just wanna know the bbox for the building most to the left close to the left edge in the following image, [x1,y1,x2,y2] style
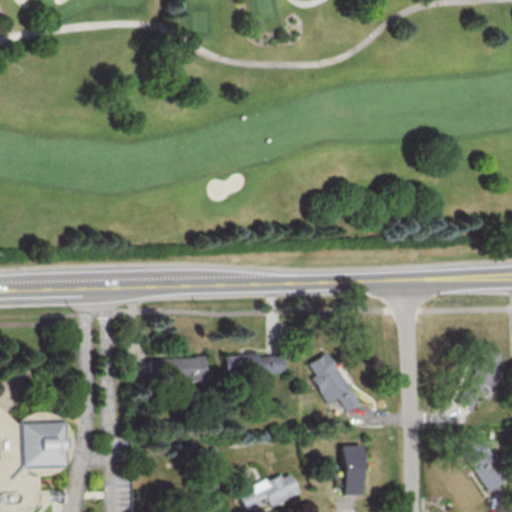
[22,420,68,469]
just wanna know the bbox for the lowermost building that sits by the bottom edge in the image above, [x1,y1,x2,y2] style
[240,474,302,512]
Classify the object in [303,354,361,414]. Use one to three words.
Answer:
house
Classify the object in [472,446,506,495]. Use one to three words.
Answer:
house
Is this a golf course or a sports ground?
golf course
